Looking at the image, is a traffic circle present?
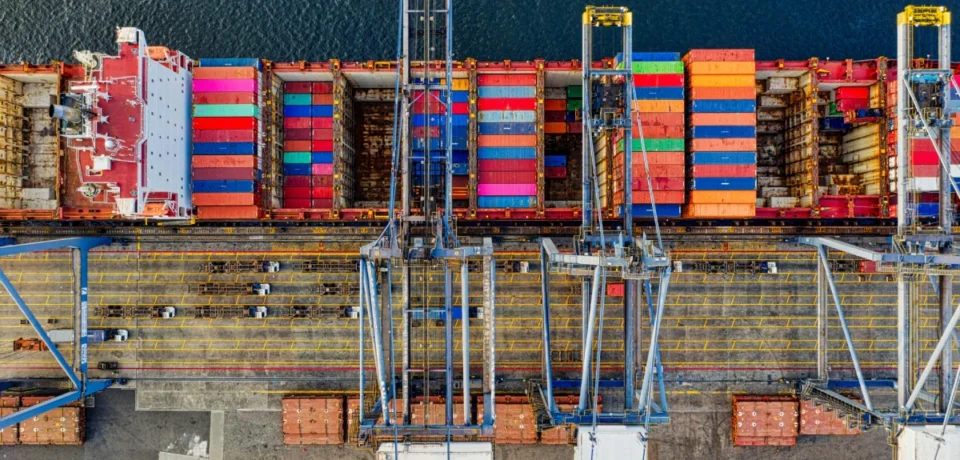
No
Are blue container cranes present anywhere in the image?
Yes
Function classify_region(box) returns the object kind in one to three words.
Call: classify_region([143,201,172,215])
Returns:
boat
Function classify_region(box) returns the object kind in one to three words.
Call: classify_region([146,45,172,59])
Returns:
boat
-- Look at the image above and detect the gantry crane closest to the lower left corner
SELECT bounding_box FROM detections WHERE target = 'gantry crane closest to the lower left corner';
[0,234,128,433]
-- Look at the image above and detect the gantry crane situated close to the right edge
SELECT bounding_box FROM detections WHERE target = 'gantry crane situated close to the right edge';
[782,6,960,460]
